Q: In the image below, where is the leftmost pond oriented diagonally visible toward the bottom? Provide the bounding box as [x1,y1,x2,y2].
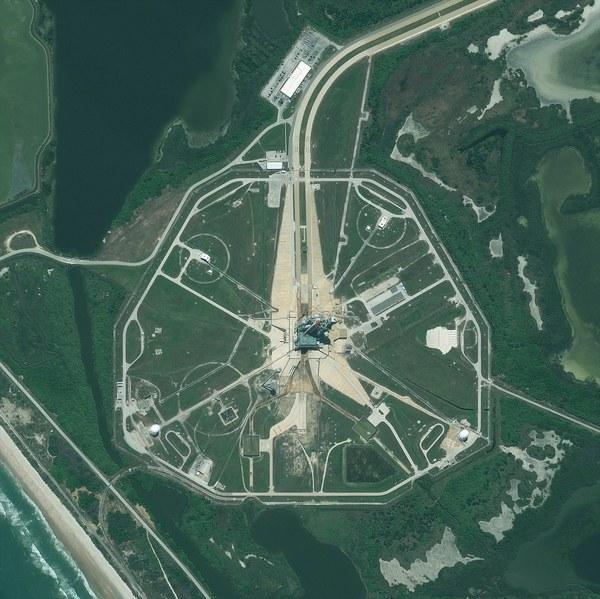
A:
[253,508,366,599]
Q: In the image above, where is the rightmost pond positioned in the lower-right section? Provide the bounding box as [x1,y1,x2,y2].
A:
[506,486,600,594]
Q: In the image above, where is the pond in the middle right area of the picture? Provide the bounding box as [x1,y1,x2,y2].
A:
[536,146,600,383]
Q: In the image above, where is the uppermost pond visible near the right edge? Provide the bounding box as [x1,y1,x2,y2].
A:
[506,0,600,114]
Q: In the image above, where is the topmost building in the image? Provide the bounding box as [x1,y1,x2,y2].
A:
[280,60,311,98]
